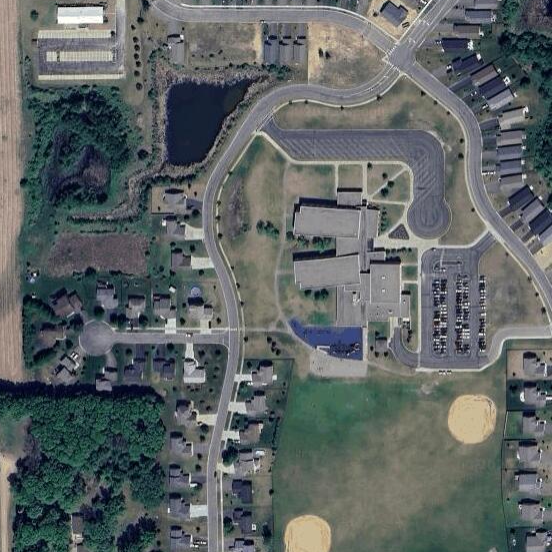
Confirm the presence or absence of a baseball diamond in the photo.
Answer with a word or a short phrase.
Yes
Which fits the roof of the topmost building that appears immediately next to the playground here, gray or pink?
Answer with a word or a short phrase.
gray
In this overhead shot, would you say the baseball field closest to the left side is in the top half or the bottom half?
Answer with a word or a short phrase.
bottom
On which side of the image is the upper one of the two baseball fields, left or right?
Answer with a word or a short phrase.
right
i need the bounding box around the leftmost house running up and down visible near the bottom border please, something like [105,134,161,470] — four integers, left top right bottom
[70,514,83,542]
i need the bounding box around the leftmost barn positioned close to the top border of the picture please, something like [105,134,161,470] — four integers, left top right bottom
[58,7,104,24]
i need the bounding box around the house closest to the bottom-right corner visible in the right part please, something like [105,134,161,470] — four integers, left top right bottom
[528,532,548,552]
